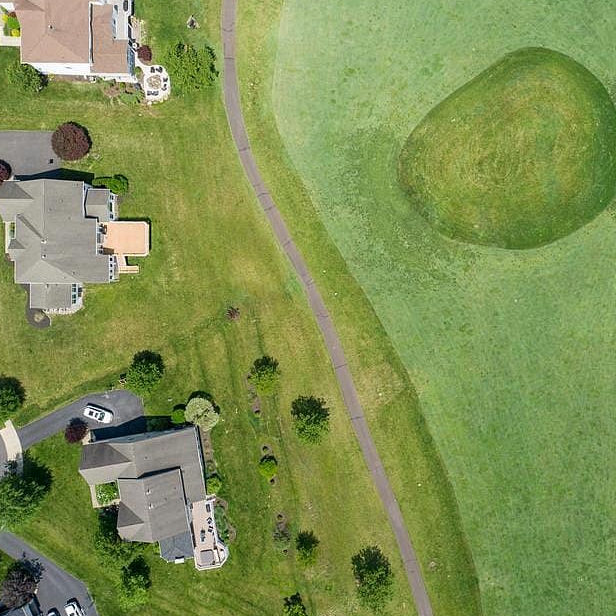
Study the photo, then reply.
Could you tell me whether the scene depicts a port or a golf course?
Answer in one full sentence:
This looks like a golf course.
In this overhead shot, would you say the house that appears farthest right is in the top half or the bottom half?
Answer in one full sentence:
The house that appears farthest right is in the bottom half of the image.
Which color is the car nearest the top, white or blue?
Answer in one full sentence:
The car nearest the top is white.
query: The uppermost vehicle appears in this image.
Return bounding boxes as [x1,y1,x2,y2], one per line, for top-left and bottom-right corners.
[83,404,114,424]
